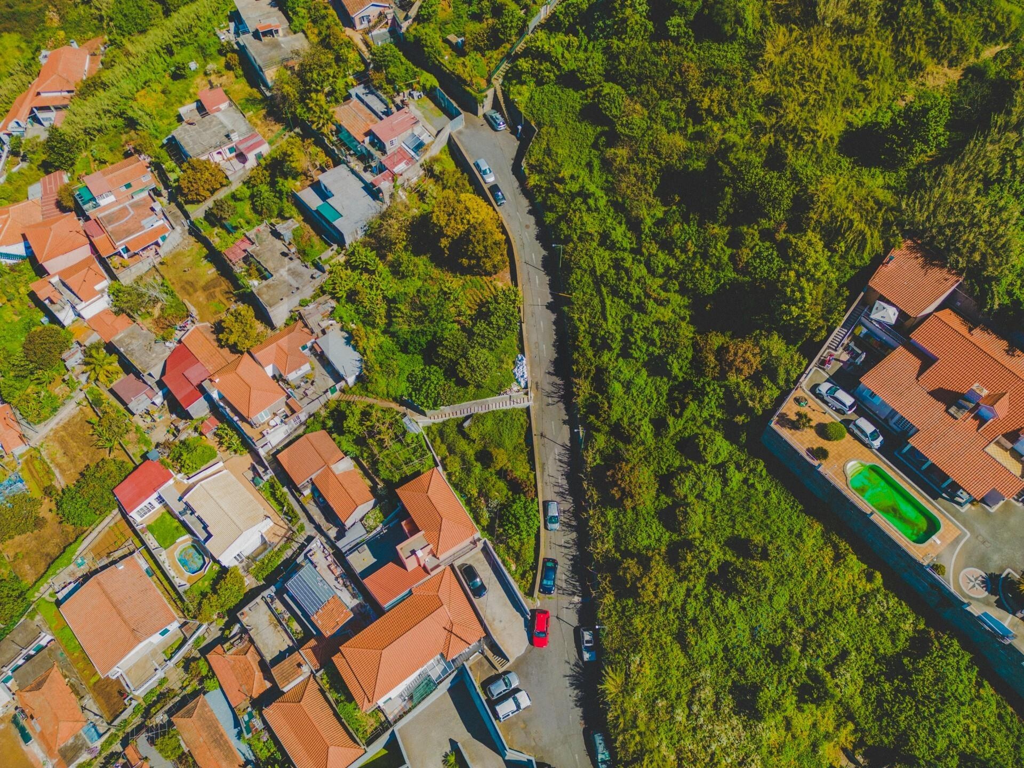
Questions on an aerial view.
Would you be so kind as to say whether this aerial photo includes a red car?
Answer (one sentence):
Yes, the picture does show a red car.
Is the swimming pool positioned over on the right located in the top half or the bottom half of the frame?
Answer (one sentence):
Seen from above, the swimming pool positioned over on the right lies in the bottom half of the view.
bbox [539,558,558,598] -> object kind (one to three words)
car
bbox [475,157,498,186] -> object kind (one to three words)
car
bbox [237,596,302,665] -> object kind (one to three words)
house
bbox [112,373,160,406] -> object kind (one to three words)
shed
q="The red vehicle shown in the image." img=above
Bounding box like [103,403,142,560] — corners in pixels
[530,610,549,651]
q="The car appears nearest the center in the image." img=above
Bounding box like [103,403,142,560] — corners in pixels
[545,499,562,536]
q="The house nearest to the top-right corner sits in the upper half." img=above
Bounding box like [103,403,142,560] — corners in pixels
[857,238,963,333]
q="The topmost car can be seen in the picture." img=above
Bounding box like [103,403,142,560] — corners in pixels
[486,108,508,134]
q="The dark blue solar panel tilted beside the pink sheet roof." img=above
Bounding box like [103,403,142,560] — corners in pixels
[401,133,425,156]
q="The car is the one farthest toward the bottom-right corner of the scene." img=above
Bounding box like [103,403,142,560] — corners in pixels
[846,416,885,450]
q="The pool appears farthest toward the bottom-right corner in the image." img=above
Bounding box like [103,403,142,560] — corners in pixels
[843,456,946,548]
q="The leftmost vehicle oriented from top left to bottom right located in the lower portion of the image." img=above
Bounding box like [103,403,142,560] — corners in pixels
[457,563,487,600]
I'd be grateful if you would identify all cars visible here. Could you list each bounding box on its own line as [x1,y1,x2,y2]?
[545,499,562,536]
[486,108,508,134]
[475,157,498,186]
[530,610,549,651]
[814,382,858,416]
[590,730,609,768]
[579,627,597,668]
[846,416,885,450]
[539,558,558,598]
[487,182,509,209]
[457,563,487,600]
[494,694,532,726]
[484,669,520,699]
